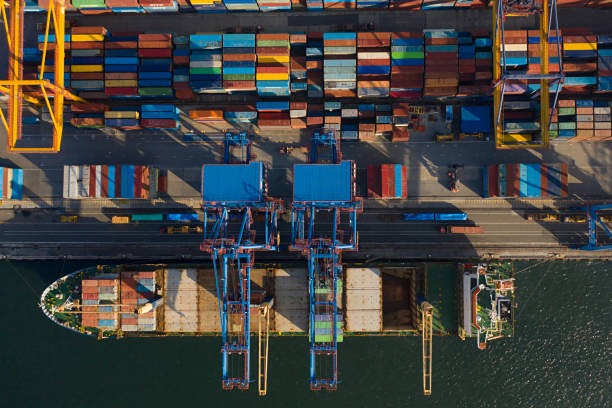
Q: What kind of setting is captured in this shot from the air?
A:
port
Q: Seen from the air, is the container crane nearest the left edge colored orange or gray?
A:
orange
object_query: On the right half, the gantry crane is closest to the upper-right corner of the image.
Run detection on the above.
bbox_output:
[465,0,568,149]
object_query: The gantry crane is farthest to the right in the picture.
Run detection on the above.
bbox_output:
[570,204,612,250]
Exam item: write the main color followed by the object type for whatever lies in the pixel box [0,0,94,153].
orange container crane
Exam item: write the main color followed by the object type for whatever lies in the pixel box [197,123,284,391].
blue container crane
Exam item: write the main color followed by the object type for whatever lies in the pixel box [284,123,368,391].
blue container crane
